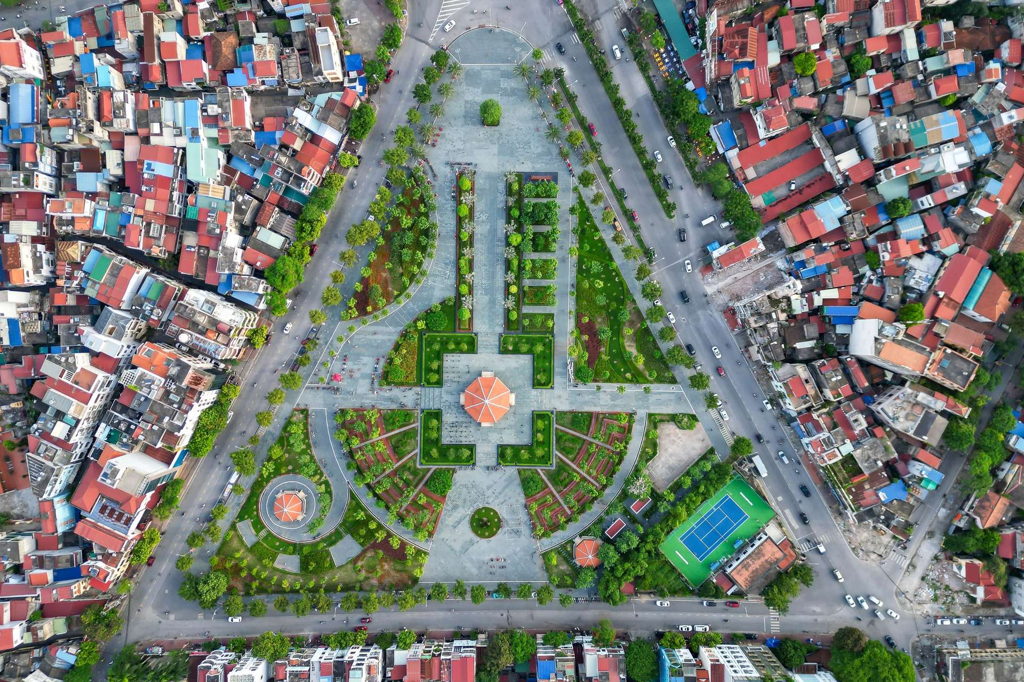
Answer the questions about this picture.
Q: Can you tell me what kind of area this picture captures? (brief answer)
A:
residential area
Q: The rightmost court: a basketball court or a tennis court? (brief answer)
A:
tennis court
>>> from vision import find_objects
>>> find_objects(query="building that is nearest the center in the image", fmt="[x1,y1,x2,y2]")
[460,371,516,427]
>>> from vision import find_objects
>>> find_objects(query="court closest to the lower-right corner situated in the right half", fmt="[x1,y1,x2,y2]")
[659,474,776,588]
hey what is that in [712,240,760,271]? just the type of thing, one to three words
house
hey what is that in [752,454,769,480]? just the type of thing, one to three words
vehicle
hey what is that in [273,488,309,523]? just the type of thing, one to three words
building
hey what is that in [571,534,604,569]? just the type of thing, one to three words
building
